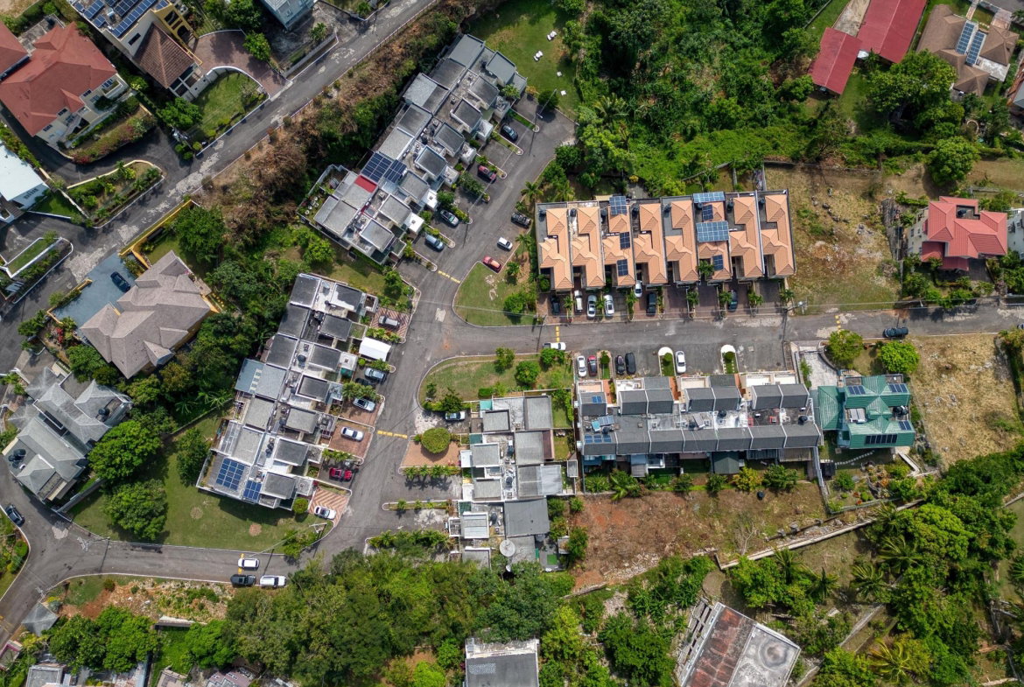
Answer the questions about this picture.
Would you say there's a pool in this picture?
No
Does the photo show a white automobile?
Yes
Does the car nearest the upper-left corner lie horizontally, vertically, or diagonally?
diagonally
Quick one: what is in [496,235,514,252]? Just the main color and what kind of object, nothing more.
white car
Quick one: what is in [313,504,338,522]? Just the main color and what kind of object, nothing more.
white car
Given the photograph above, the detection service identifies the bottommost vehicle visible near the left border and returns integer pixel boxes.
[3,503,28,528]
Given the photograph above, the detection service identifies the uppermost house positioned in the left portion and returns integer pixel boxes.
[262,0,322,36]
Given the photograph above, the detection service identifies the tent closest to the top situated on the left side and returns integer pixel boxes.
[359,338,392,362]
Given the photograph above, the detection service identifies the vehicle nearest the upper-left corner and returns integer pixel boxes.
[109,270,134,294]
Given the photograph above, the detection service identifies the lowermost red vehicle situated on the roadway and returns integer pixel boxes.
[328,465,354,482]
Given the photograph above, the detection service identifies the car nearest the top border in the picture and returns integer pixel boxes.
[500,123,519,142]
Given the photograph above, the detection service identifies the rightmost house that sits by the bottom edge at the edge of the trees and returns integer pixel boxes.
[668,593,801,687]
